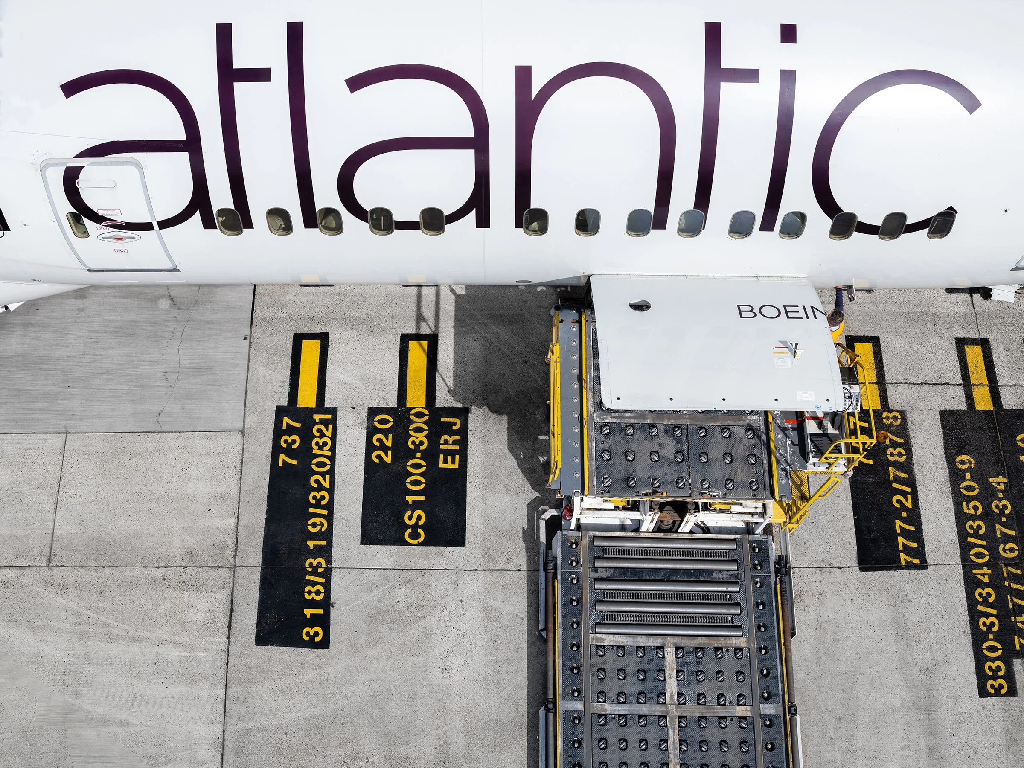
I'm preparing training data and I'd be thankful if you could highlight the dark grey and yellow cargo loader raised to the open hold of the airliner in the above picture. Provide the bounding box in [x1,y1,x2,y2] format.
[539,288,889,768]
